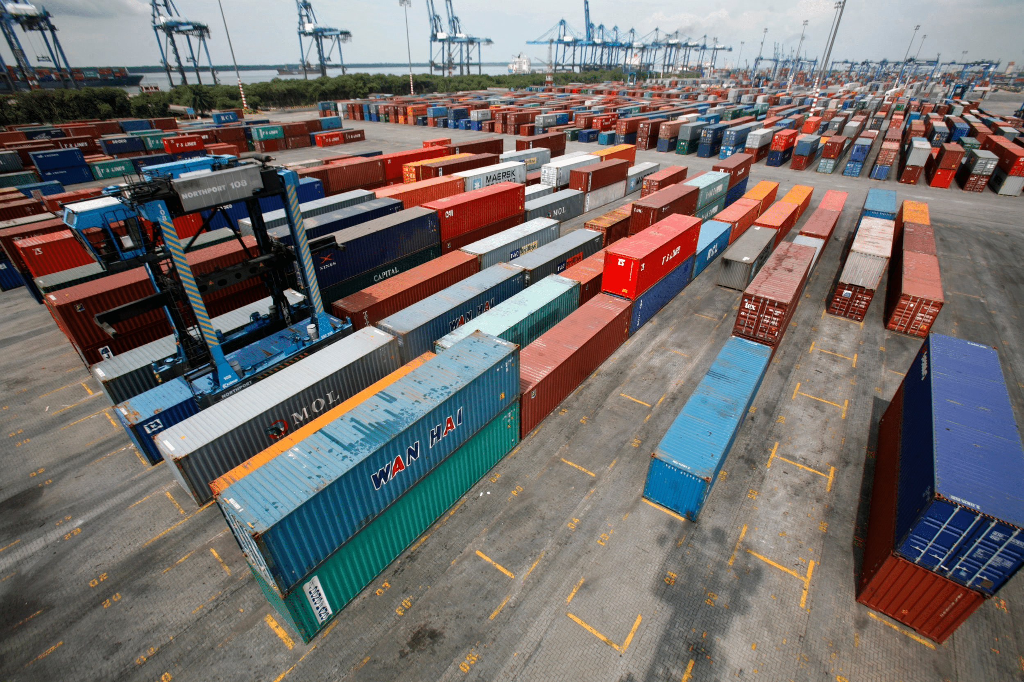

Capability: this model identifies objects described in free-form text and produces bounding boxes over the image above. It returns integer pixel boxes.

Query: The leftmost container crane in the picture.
[2,0,92,91]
